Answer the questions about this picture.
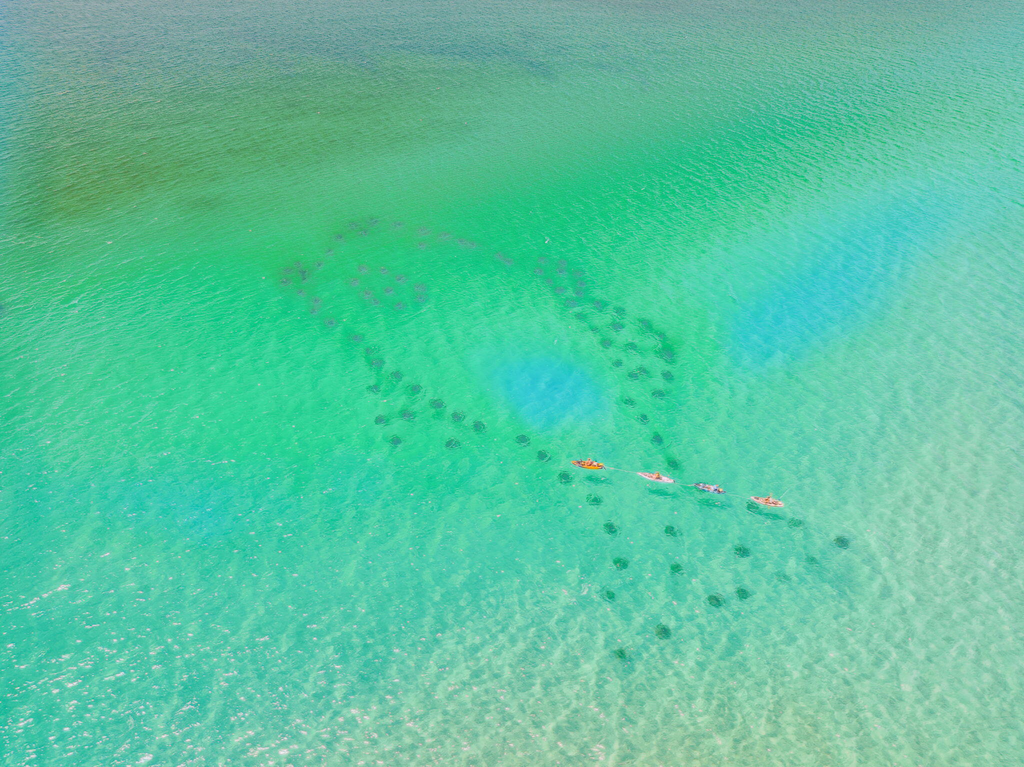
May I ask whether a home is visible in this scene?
No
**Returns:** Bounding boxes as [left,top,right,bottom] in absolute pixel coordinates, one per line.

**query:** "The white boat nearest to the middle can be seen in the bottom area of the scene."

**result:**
[637,471,677,485]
